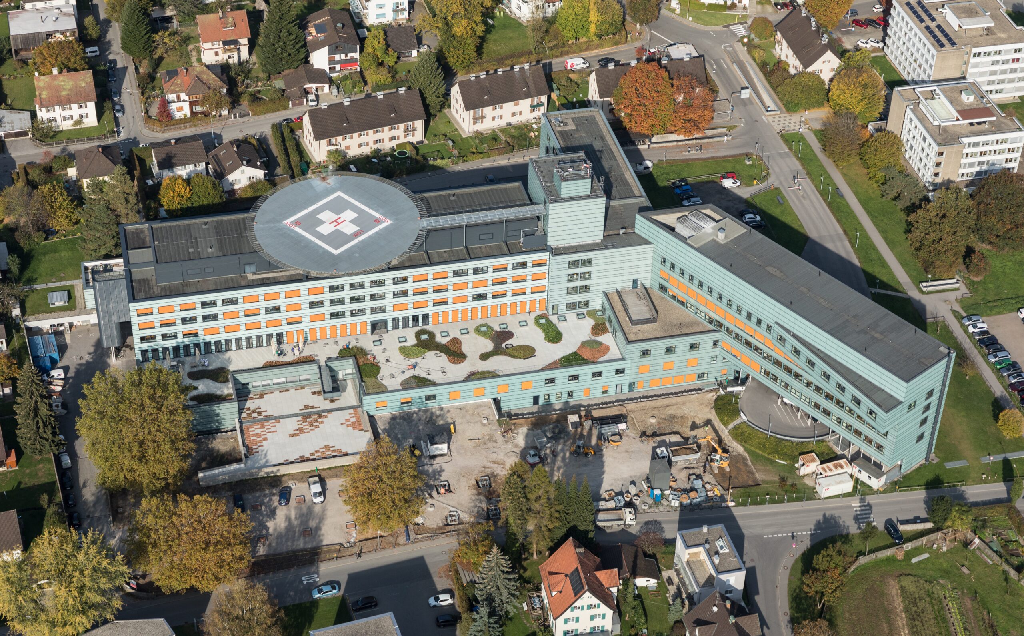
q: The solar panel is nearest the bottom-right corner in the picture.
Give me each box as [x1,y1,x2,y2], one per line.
[563,570,581,600]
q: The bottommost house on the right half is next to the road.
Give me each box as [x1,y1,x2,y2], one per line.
[682,594,755,636]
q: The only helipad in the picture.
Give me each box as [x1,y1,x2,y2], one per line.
[244,171,430,282]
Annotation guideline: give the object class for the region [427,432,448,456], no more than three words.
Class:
shed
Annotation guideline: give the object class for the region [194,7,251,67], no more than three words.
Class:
house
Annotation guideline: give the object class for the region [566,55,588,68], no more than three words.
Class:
vehicle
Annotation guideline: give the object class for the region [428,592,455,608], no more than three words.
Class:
car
